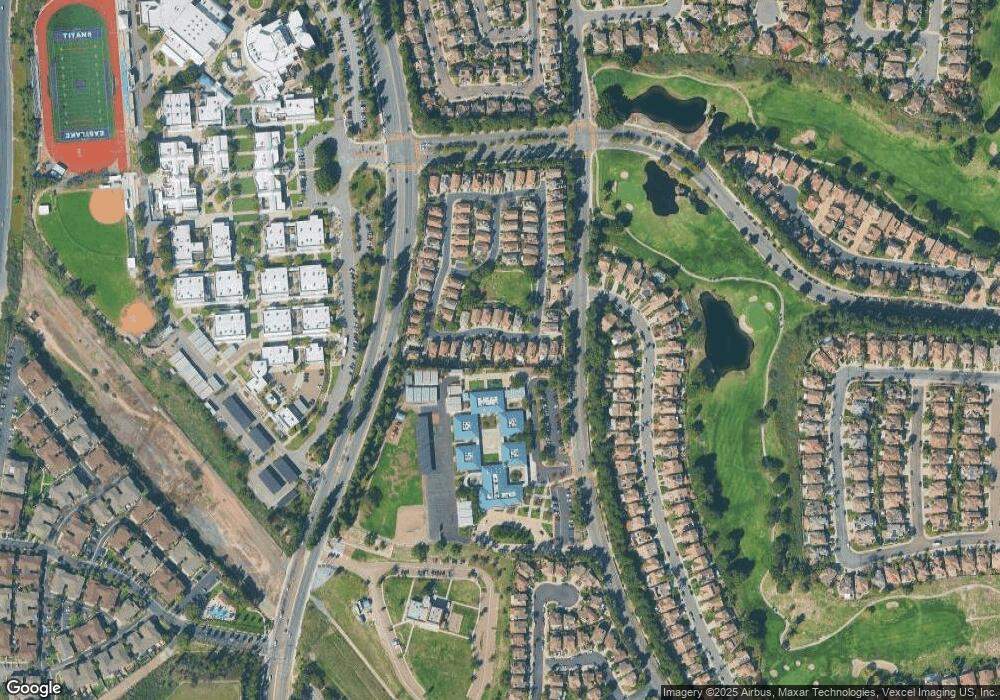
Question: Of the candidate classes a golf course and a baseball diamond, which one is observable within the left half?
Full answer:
The feature located within the left half is a baseball diamond.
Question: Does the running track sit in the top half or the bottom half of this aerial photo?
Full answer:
You can find the running track in the top half.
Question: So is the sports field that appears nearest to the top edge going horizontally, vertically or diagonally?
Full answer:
The sports field that appears nearest to the top edge is laid out vertically.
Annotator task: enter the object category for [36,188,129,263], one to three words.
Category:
baseball field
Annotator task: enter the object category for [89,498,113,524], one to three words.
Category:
building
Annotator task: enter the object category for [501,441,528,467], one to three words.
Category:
building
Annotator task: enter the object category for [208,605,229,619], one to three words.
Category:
swimming pool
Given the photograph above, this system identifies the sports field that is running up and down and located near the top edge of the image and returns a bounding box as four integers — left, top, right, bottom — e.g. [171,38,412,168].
[48,3,115,142]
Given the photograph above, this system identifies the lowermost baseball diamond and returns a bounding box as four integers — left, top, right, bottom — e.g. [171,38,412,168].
[62,261,155,335]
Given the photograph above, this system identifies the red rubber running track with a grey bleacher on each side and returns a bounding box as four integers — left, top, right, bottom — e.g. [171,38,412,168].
[36,0,128,173]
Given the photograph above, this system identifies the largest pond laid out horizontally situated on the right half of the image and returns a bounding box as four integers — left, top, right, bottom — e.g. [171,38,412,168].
[604,86,706,131]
